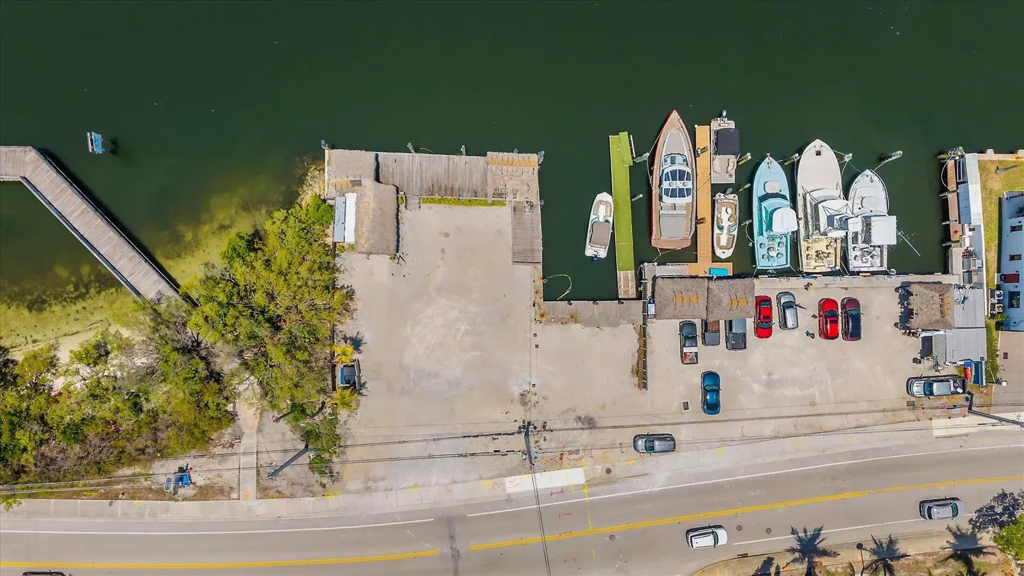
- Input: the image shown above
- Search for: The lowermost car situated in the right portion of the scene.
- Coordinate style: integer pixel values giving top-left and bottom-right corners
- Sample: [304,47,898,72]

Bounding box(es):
[683,522,727,548]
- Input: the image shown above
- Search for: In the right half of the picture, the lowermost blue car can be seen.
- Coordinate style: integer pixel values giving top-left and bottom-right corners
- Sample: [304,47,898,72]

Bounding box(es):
[699,370,722,415]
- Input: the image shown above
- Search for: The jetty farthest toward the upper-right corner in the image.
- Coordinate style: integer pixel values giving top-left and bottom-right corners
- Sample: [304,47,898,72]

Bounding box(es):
[941,158,960,246]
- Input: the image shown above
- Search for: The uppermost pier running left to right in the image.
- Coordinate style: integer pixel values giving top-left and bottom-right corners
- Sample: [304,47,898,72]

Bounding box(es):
[324,148,541,200]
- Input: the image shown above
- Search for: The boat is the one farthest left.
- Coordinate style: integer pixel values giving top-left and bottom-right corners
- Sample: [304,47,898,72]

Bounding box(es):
[586,192,613,262]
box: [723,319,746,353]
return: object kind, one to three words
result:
truck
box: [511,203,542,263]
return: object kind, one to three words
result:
pier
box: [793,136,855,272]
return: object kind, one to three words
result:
boat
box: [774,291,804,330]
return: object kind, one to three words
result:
car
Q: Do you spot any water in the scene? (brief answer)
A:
Yes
